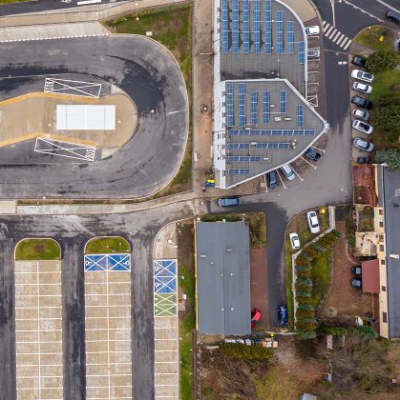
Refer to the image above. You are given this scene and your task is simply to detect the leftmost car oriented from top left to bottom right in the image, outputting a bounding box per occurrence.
[279,161,298,182]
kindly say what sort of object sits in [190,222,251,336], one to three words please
building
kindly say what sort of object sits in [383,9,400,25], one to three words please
car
